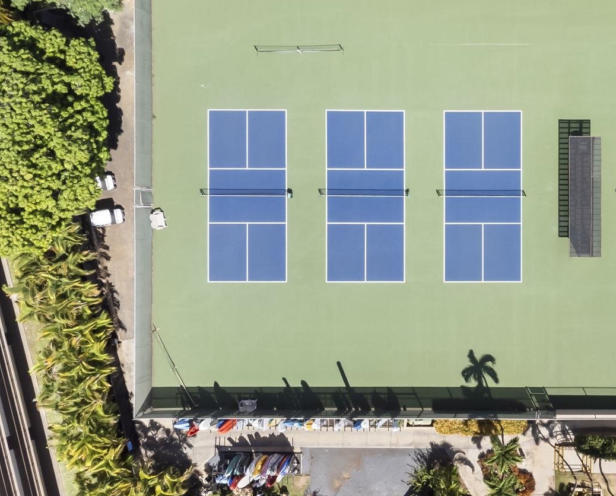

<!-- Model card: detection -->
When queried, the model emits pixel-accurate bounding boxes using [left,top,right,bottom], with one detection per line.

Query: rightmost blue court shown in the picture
[444,110,522,282]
